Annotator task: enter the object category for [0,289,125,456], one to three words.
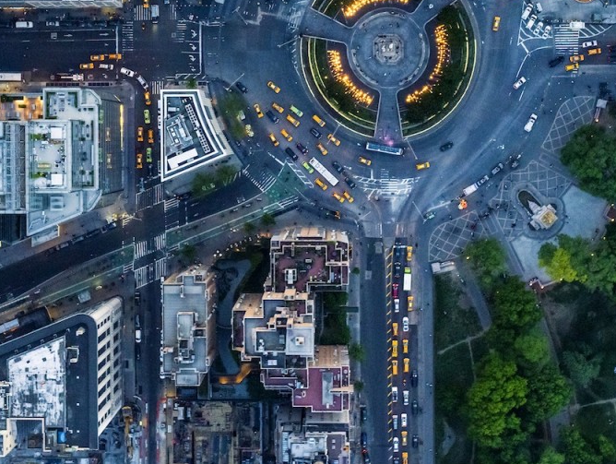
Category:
building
